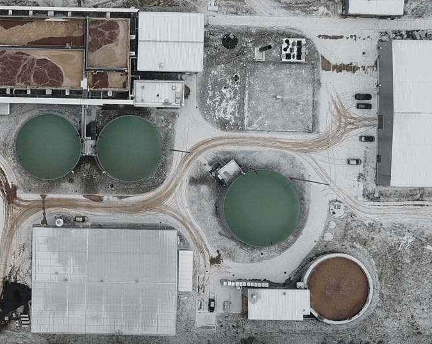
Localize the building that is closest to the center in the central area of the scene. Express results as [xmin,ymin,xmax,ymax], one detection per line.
[217,160,243,183]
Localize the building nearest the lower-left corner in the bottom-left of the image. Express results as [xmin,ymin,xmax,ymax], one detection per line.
[31,226,177,336]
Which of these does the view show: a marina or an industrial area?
industrial area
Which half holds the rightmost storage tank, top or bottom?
bottom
